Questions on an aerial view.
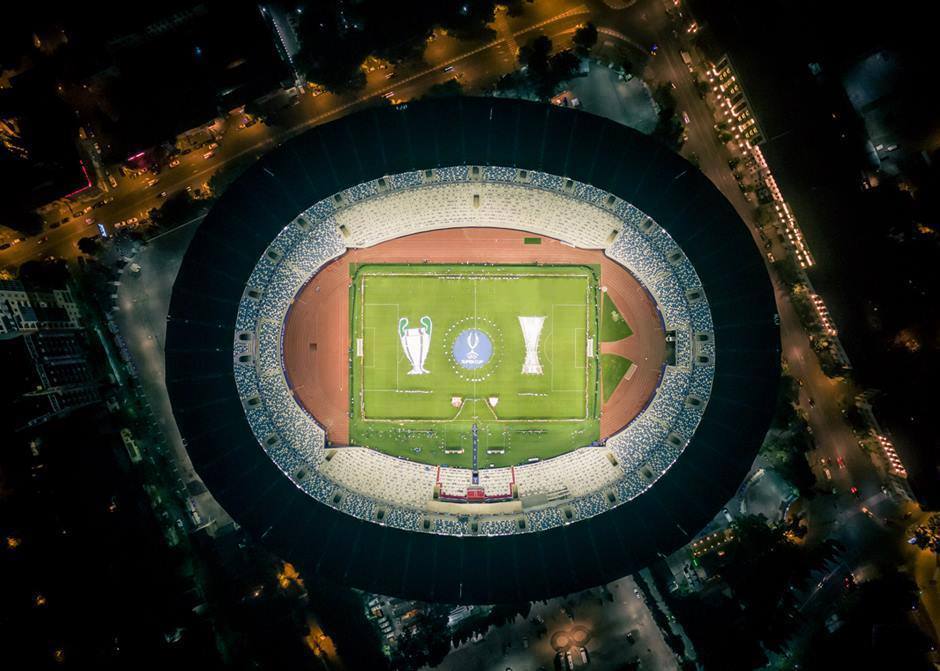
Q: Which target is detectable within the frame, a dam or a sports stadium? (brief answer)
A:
sports stadium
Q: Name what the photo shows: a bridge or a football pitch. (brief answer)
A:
football pitch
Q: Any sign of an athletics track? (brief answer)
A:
Yes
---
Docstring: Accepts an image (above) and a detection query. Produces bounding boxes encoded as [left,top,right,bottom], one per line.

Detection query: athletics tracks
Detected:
[283,197,681,492]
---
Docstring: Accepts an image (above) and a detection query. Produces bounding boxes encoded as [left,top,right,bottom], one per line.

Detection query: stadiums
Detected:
[166,97,780,602]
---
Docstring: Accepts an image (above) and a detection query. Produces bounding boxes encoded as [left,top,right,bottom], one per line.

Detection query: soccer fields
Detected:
[350,263,600,470]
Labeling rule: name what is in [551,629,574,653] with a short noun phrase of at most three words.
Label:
fountain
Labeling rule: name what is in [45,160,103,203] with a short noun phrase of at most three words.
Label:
building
